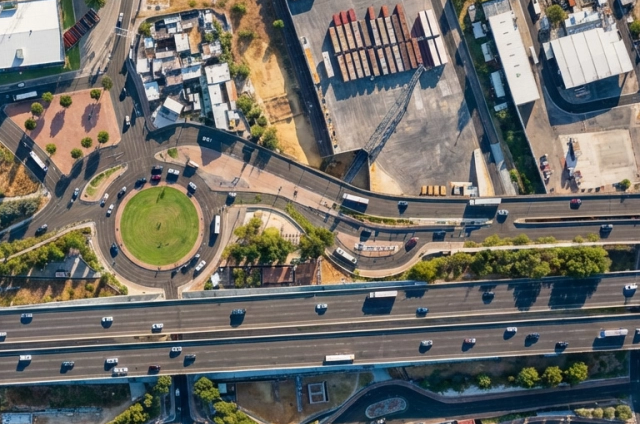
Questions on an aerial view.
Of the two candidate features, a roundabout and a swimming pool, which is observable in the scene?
roundabout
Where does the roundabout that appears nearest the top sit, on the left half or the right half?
left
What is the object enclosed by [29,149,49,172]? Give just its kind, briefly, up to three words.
vehicle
